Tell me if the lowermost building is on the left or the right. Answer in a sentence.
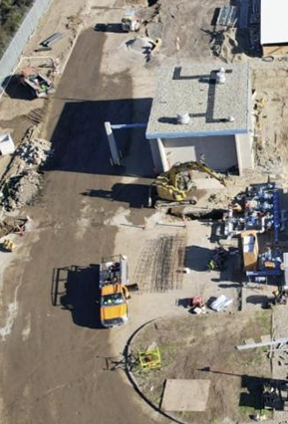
The lowermost building sits on the right side.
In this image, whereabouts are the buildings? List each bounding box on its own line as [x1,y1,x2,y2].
[147,61,254,181]
[254,0,288,57]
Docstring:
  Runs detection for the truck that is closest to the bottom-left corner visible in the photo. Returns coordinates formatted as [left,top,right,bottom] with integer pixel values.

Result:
[92,246,130,323]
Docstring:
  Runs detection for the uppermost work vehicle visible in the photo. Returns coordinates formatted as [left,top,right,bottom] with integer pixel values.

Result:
[120,11,140,31]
